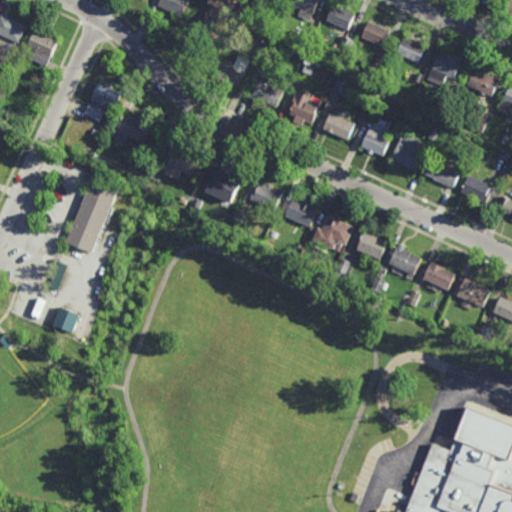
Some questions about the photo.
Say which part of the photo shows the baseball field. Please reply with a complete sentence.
Look in the bottom left portion of the view to spot the baseball field.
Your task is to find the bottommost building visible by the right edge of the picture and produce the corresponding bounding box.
[406,407,512,512]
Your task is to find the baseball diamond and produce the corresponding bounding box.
[0,340,48,436]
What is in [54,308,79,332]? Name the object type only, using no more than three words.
building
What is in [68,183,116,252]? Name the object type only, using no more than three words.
building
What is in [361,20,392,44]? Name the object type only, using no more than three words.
house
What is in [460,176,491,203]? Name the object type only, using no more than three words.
house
